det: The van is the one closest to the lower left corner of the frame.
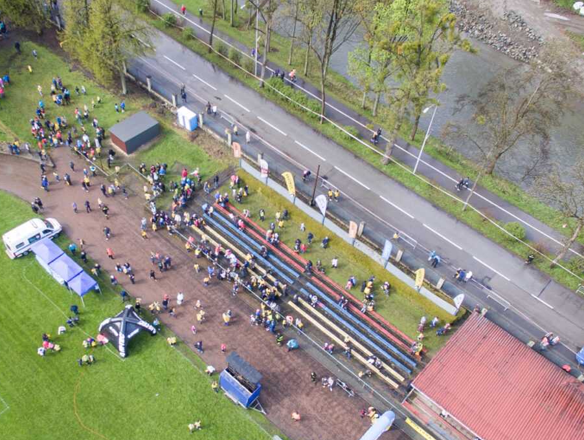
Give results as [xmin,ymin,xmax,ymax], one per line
[0,216,61,259]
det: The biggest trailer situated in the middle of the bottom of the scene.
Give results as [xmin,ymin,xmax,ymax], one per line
[219,355,267,416]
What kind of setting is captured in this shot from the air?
sports ground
